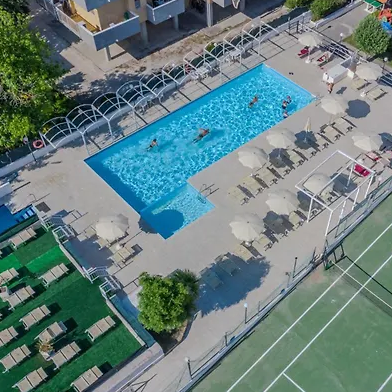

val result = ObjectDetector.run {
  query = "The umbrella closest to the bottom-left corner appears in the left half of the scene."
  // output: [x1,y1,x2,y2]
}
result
[95,216,132,252]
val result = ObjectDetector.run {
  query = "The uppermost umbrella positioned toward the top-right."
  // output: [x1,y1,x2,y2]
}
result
[297,34,322,63]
